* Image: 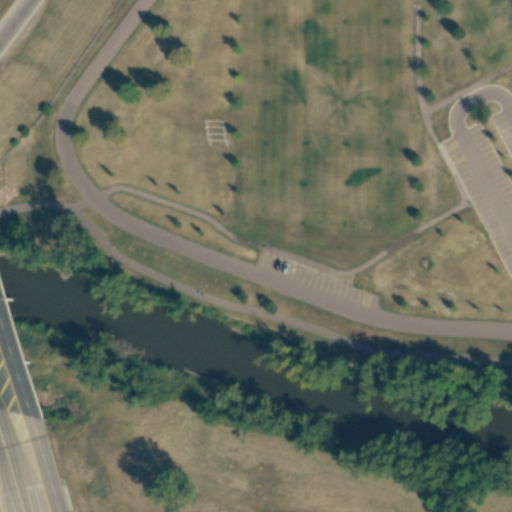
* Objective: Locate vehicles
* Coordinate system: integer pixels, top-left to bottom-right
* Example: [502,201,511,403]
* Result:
[284,262,289,273]
[274,259,280,270]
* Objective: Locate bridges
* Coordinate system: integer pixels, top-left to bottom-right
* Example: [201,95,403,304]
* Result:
[0,279,44,420]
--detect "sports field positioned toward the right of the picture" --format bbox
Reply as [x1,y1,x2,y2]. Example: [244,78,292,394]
[236,0,412,228]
